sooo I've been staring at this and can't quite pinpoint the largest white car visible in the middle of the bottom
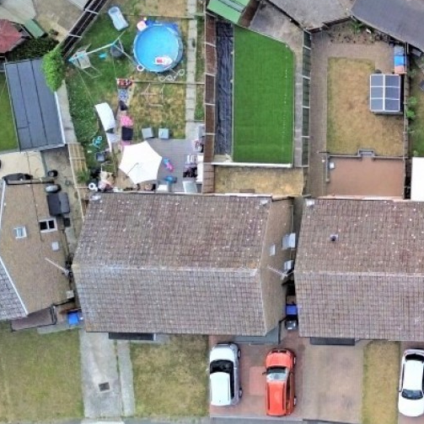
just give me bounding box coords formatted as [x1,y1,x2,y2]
[203,344,240,410]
